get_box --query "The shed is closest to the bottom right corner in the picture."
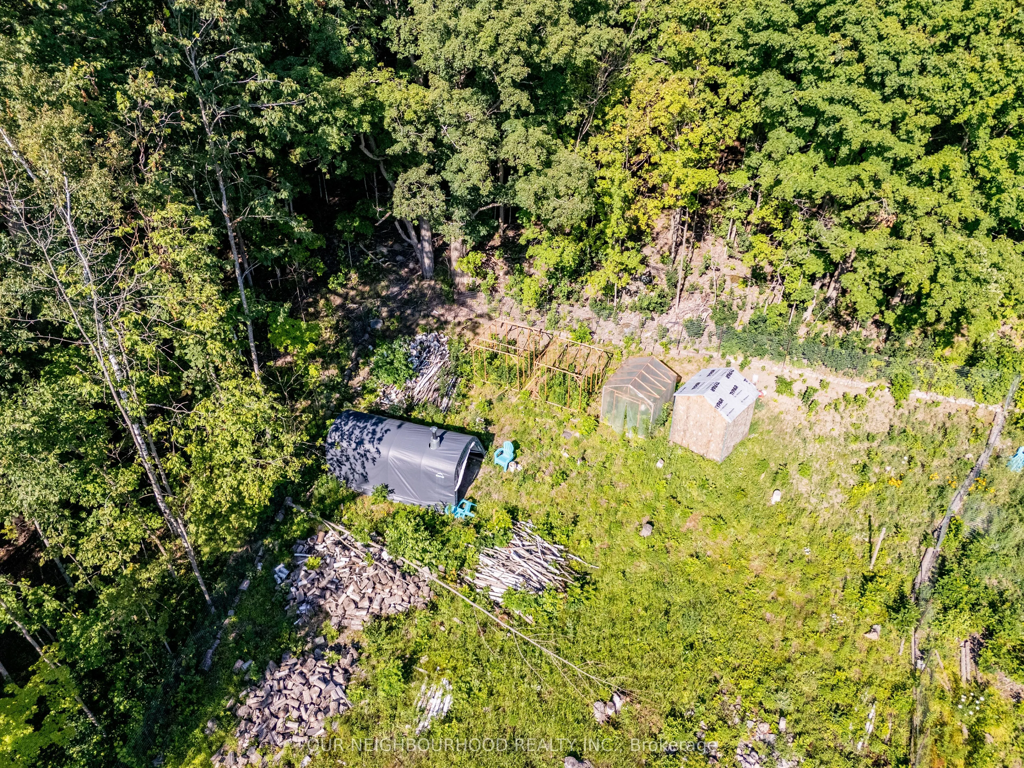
[668,368,760,465]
